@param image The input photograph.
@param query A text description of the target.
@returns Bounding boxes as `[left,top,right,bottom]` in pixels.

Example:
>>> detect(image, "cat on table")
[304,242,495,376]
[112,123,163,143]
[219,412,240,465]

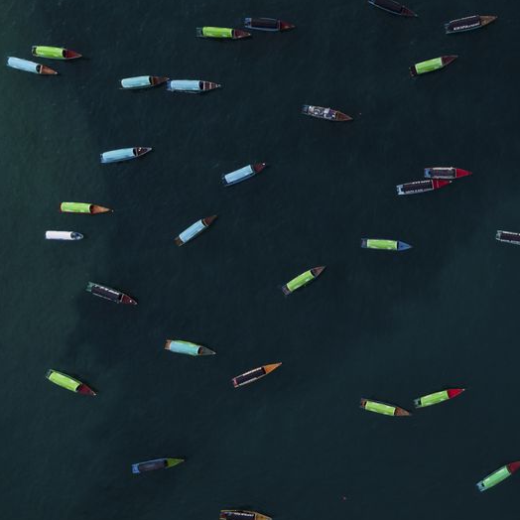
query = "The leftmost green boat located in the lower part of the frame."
[46,369,97,395]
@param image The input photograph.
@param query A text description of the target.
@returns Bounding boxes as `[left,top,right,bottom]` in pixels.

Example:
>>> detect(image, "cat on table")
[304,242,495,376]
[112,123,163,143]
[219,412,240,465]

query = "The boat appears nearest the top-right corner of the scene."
[444,16,498,34]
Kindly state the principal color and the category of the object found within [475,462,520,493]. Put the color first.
green boat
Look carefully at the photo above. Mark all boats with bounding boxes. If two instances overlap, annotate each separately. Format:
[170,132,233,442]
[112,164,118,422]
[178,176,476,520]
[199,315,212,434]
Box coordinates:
[118,75,170,88]
[423,167,472,178]
[220,163,266,186]
[162,340,216,356]
[46,230,83,240]
[243,17,295,30]
[396,179,452,194]
[194,26,251,38]
[84,282,137,304]
[281,265,327,295]
[414,388,465,409]
[218,511,272,520]
[302,104,354,121]
[359,398,411,416]
[475,462,520,493]
[99,147,153,163]
[360,238,413,251]
[231,363,282,388]
[130,458,185,474]
[174,215,218,248]
[410,55,459,76]
[46,369,97,395]
[496,230,520,244]
[58,203,113,214]
[5,56,58,75]
[444,16,498,34]
[30,46,82,59]
[165,79,220,92]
